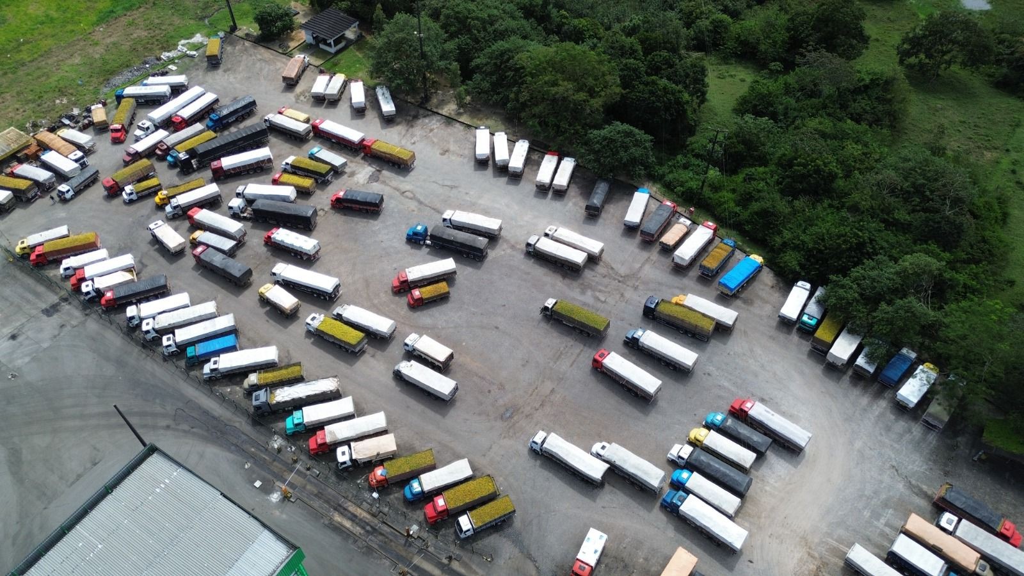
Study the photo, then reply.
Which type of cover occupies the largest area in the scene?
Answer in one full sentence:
Most of the picture is covered by paved ground.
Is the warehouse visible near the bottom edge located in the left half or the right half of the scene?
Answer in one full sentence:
The warehouse visible near the bottom edge appears in the left half of the scene.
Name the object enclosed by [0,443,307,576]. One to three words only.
warehouse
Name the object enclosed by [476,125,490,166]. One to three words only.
vehicle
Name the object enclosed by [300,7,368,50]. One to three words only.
house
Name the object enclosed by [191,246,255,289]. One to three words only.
truck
